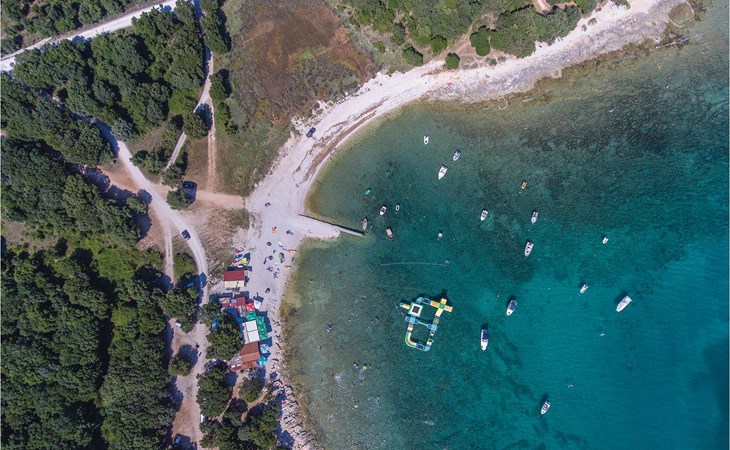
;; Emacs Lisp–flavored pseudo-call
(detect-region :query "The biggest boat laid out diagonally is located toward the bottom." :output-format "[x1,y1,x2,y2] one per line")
[617,294,633,313]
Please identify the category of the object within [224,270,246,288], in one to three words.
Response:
house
